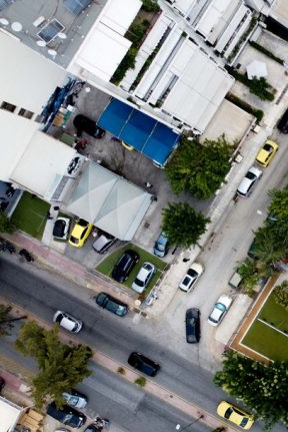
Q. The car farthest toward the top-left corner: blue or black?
black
